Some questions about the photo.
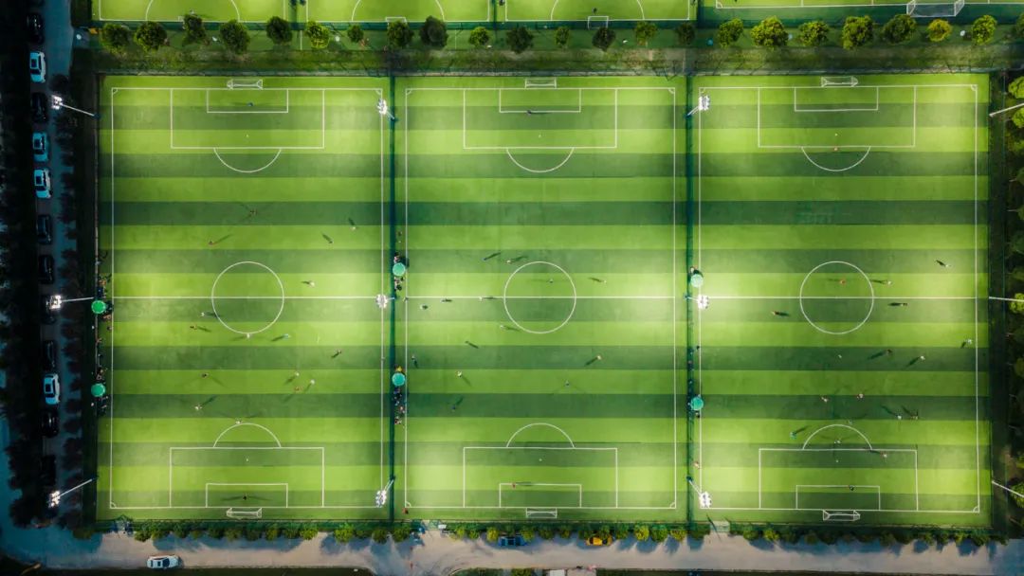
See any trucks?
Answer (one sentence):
No, I find no truck anywhere in the image.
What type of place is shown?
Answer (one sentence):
It's a sports ground.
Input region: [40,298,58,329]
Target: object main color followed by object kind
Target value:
black car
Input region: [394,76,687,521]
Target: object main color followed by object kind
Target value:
green sports field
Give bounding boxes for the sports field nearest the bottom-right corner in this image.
[692,74,992,527]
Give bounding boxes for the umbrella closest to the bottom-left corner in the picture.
[92,383,108,397]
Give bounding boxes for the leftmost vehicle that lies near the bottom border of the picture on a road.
[147,553,181,570]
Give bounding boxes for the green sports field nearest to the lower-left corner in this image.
[97,76,388,521]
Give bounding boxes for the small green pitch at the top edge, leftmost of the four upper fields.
[93,0,295,28]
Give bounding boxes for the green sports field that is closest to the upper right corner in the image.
[701,0,1024,28]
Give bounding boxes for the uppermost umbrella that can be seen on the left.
[392,262,405,276]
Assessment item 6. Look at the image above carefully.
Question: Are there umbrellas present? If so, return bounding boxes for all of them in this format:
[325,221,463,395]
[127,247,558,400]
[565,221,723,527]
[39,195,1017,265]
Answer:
[690,273,704,287]
[392,373,405,386]
[392,262,405,276]
[92,383,108,397]
[92,300,109,314]
[690,397,704,411]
